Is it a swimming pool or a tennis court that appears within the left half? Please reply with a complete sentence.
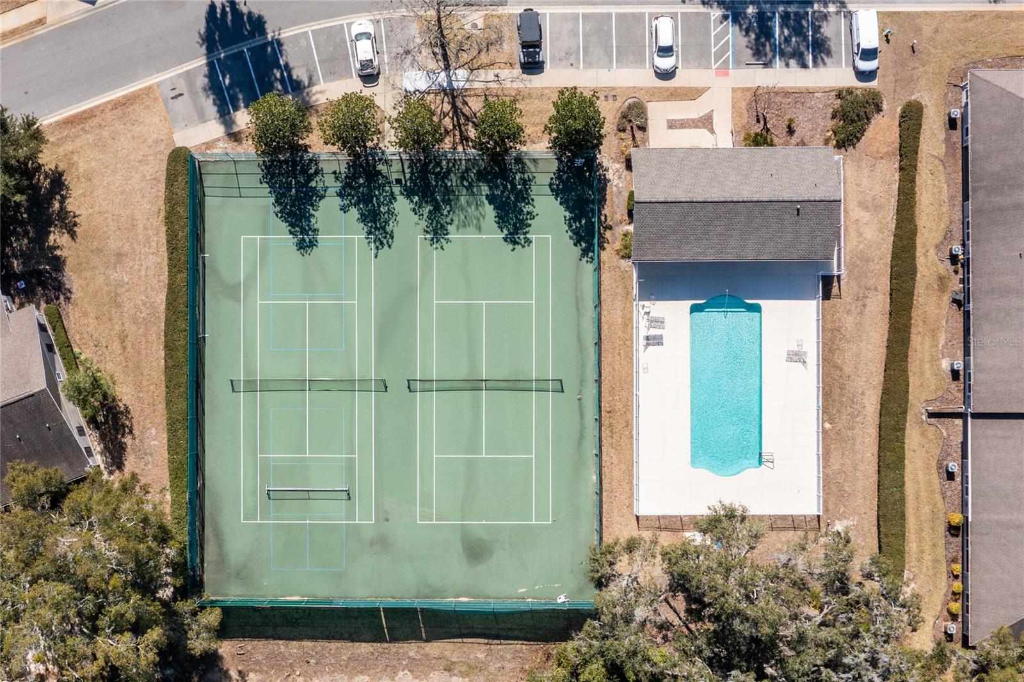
What appears within the left half is a tennis court.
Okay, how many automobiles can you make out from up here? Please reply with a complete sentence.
Looking from above, you can make out 4 automobiles.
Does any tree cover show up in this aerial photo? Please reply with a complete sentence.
Yes, there's tree cover in this view.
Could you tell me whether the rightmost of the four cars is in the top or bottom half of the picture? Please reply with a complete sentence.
You can find the rightmost of the four cars in the top half.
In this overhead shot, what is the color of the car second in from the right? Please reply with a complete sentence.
From above, the car second in from the right appears white.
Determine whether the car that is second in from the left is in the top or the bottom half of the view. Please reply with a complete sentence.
The top half of the photo is where the car that is second in from the left is.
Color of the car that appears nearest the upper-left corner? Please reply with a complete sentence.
In this view, the car that appears nearest the upper-left corner is white.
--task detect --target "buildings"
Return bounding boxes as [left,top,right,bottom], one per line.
[632,147,841,262]
[0,303,99,506]
[946,69,1024,639]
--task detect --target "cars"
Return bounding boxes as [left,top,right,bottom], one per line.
[518,7,544,67]
[849,7,882,72]
[651,16,680,74]
[351,20,379,76]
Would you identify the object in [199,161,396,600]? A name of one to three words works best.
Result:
tennis court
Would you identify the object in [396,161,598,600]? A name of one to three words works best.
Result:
tennis court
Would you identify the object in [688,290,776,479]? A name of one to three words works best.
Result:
swimming pool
